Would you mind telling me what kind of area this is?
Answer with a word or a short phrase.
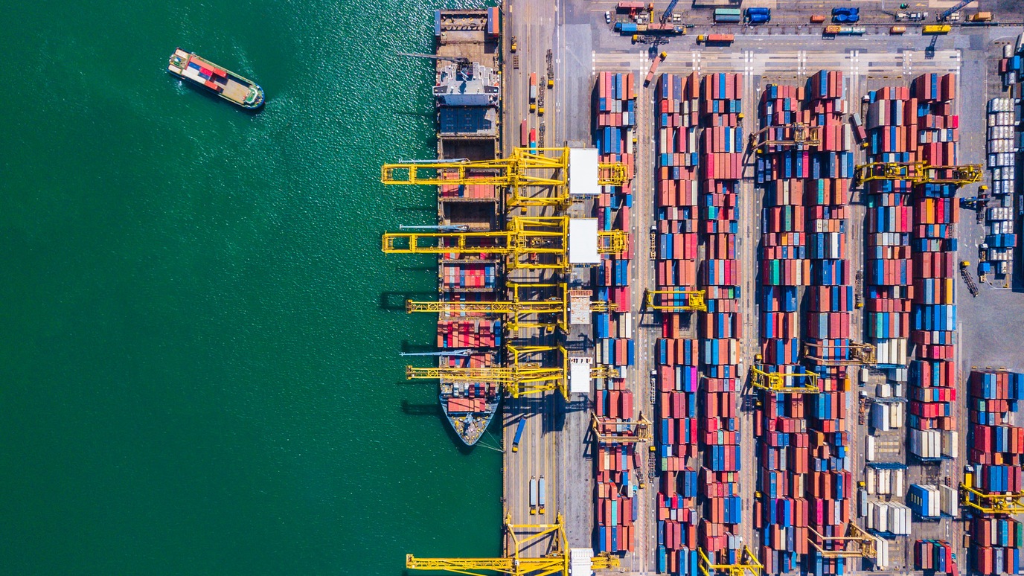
port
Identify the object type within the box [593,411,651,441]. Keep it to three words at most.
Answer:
container crane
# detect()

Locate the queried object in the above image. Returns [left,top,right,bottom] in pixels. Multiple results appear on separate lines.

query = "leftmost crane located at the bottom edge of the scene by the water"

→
[403,507,620,576]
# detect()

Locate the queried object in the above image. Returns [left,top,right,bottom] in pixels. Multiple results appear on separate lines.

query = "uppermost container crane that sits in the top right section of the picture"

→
[751,122,819,152]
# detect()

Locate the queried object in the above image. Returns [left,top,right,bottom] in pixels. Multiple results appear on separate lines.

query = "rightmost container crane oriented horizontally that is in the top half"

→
[910,163,985,191]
